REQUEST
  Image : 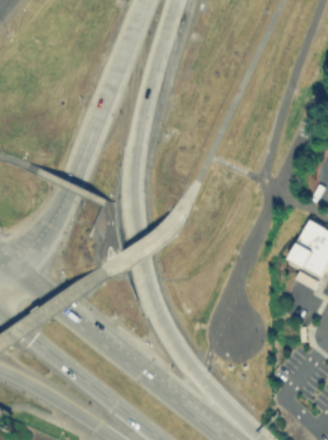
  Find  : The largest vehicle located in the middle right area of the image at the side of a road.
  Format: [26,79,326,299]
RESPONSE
[312,183,325,202]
